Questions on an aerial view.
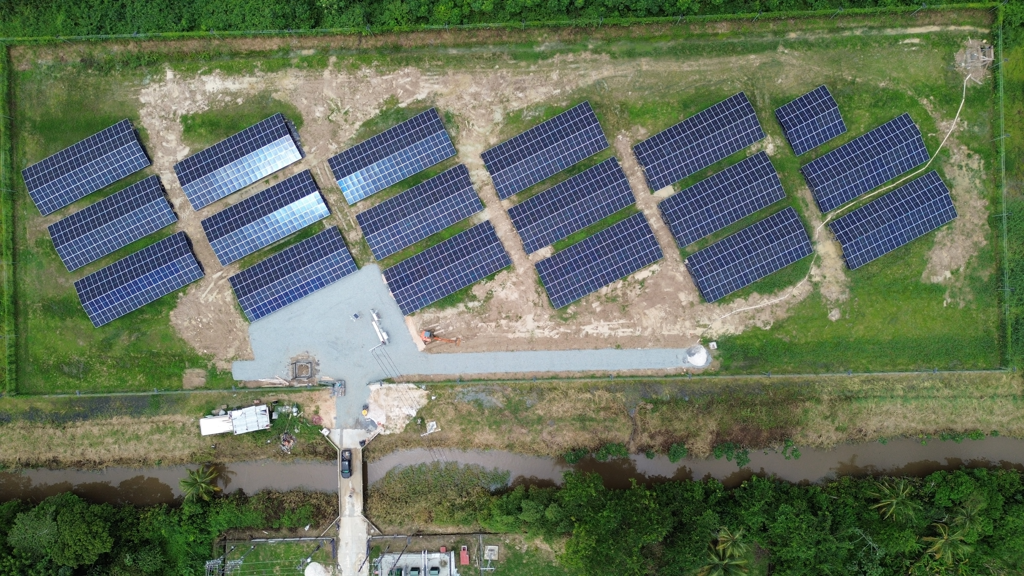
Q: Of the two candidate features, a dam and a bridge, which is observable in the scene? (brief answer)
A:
bridge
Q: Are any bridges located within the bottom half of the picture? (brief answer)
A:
Yes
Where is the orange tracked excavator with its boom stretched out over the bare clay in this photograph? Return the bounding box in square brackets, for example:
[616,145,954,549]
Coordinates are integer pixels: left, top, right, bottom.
[418,327,457,345]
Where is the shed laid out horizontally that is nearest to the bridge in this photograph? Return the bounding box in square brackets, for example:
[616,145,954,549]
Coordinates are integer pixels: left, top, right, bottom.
[195,405,270,438]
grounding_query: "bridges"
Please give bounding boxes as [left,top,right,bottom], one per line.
[318,430,382,537]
